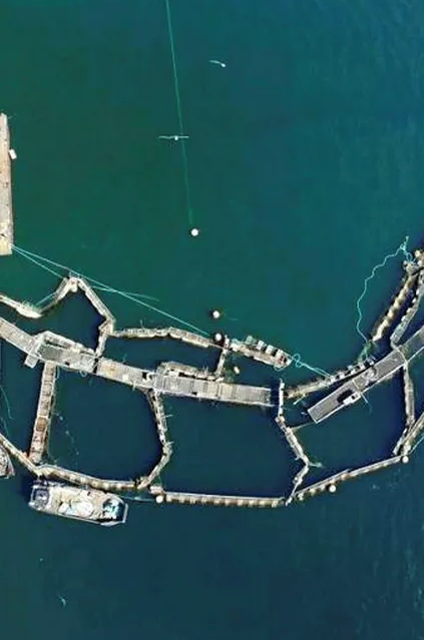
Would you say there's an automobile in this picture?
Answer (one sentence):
No, there appears to be no automobile in this shot.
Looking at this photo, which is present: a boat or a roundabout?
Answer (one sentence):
The one in the frame is a boat.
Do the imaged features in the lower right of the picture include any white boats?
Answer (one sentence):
No, looking in the lower right of the picture, there is no white boat.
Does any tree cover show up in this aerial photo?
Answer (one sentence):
No, the scene doesn't show any tree cover.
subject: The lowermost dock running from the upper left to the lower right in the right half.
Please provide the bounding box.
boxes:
[276,416,310,465]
